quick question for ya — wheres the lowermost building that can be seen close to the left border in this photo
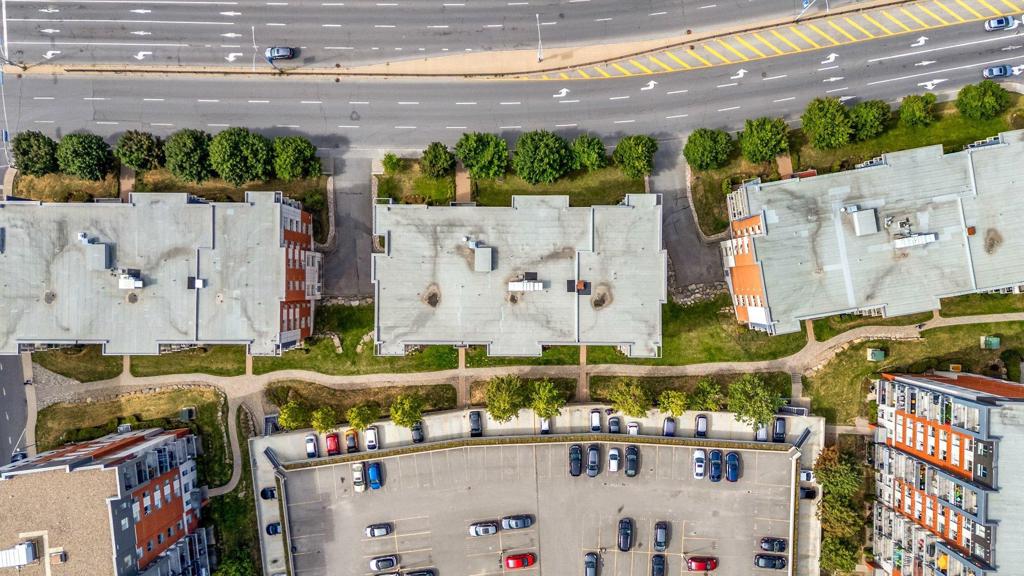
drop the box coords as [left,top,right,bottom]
[0,427,213,576]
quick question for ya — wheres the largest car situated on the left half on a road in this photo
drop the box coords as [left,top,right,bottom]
[266,45,294,60]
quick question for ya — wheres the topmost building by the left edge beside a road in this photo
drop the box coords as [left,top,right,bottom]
[0,192,326,356]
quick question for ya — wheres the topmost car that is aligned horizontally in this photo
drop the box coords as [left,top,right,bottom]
[984,15,1013,32]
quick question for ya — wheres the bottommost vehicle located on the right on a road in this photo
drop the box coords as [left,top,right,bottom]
[981,64,1011,80]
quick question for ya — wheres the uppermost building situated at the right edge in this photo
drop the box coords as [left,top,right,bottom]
[703,129,1024,336]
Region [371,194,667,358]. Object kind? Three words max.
building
